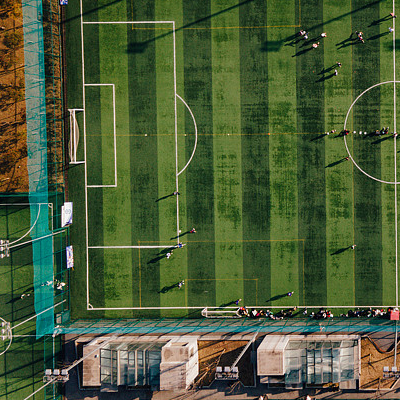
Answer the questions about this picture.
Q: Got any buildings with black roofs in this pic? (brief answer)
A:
No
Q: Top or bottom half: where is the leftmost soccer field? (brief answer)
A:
bottom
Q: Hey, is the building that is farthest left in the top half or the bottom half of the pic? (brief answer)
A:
bottom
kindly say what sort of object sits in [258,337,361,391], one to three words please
building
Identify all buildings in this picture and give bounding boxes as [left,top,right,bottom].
[258,337,361,391]
[83,337,198,395]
